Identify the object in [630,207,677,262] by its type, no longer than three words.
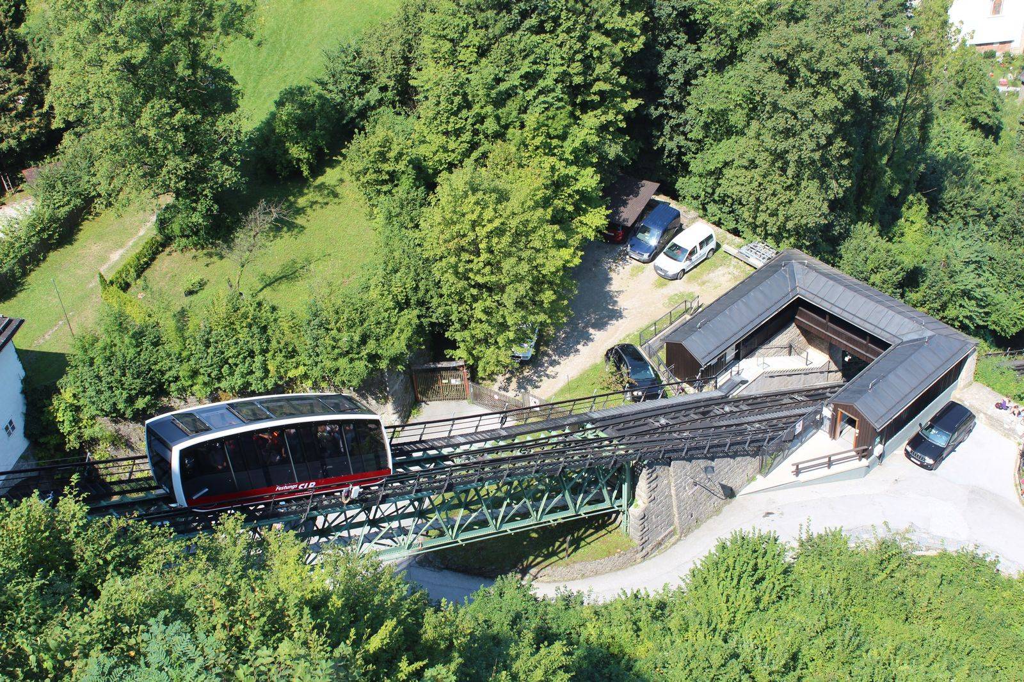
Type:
van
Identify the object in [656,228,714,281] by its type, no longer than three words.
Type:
van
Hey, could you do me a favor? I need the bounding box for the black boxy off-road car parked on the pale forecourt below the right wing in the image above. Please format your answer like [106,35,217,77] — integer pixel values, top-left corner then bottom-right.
[907,399,978,468]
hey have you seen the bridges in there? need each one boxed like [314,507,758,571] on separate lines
[0,373,850,572]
